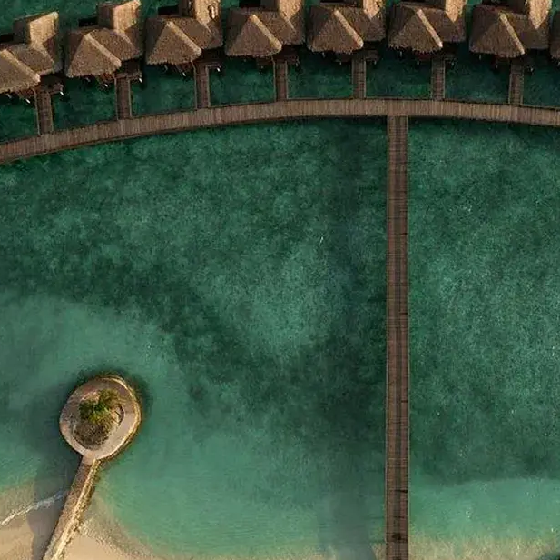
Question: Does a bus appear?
No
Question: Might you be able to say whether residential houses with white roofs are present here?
No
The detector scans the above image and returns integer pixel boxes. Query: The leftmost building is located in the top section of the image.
[0,11,72,111]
